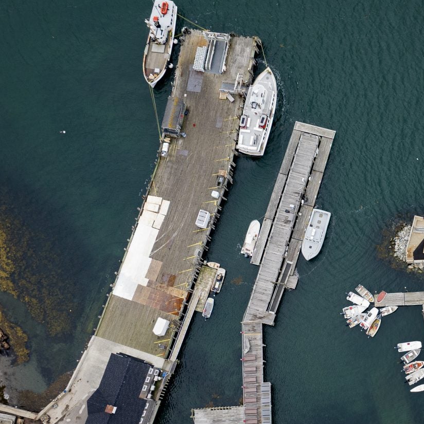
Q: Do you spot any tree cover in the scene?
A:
No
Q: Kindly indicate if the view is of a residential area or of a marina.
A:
marina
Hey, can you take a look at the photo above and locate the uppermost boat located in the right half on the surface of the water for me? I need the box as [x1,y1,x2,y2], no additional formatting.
[238,67,276,158]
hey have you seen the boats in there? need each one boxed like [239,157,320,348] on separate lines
[202,297,214,321]
[139,0,176,86]
[345,291,369,309]
[238,67,276,158]
[378,290,387,303]
[411,384,424,392]
[359,307,379,331]
[344,313,366,328]
[402,368,424,385]
[208,261,220,269]
[355,284,374,303]
[212,269,226,297]
[380,306,397,317]
[392,340,422,352]
[339,305,366,318]
[303,207,330,259]
[400,361,424,374]
[399,350,420,364]
[242,220,259,261]
[367,315,382,340]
